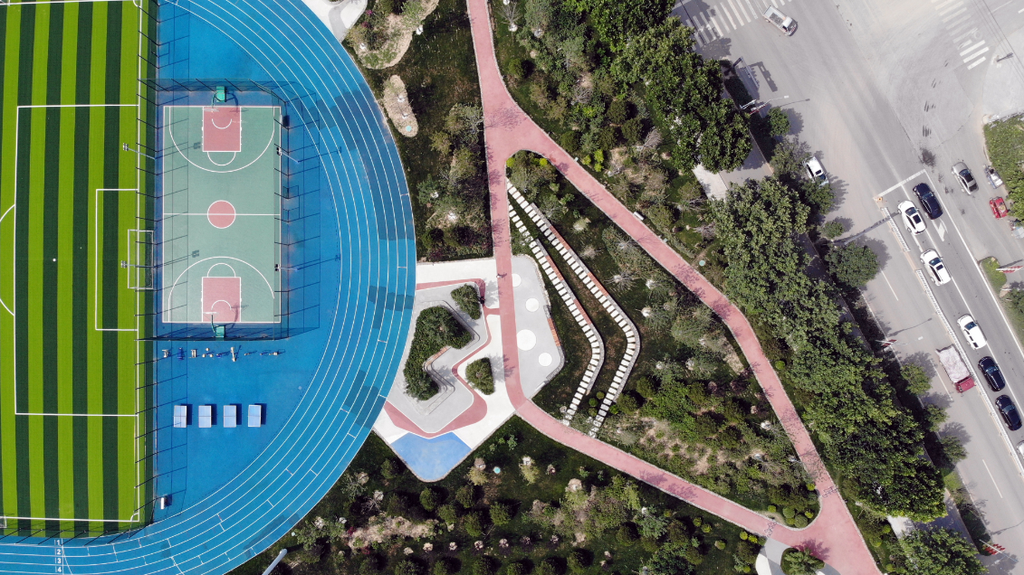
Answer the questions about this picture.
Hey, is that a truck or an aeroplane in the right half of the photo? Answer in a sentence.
It is a truck that can be seen in the right half of the photo.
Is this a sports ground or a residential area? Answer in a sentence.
The area seen from above is a sports ground.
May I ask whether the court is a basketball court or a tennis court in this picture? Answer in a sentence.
It looks like the court is a basketball court.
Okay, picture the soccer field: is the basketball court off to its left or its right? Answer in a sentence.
The soccer field has the basketball court on its right side.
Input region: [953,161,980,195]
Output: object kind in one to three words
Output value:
car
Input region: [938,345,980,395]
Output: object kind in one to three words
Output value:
truck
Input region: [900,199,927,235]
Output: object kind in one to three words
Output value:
car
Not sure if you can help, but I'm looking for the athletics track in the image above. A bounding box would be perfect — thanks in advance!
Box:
[0,0,416,575]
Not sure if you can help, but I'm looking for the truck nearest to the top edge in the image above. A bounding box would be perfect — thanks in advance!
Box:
[762,5,795,35]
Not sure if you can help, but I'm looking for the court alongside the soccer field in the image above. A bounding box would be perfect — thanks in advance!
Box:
[158,89,289,338]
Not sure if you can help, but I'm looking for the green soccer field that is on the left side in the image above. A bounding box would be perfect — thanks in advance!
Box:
[0,0,158,539]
